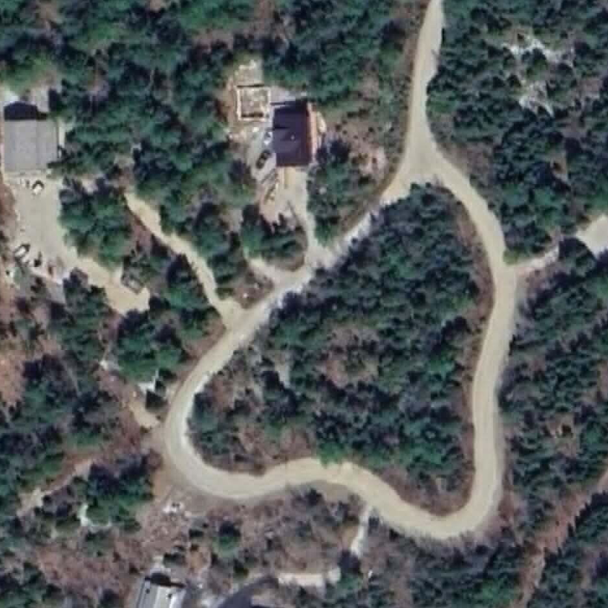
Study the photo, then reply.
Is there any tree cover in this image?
Yes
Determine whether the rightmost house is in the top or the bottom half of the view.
top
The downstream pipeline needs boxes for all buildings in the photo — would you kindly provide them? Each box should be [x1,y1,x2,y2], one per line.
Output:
[275,106,321,166]
[139,579,186,608]
[4,119,59,168]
